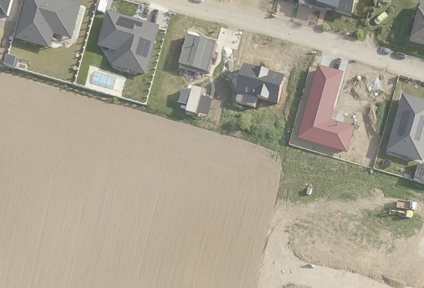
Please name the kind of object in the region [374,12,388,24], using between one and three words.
vehicle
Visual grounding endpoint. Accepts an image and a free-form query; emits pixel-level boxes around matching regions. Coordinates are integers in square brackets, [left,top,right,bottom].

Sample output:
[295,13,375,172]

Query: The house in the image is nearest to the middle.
[177,85,212,115]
